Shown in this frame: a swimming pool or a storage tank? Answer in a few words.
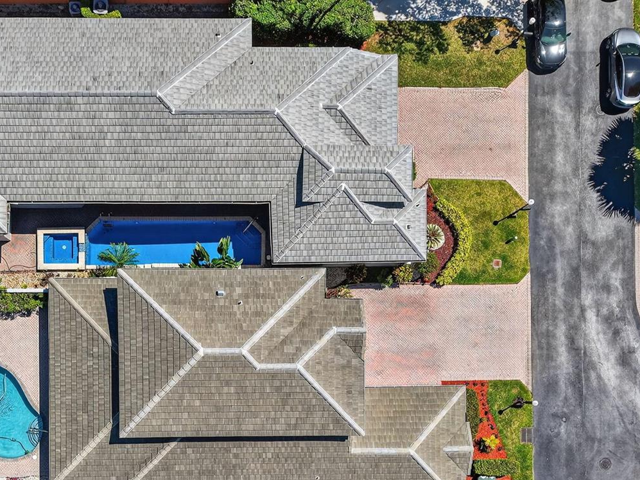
swimming pool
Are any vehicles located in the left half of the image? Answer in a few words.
No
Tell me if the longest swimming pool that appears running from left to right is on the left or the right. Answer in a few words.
left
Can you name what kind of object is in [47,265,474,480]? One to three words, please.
house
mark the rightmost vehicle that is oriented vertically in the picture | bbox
[606,30,640,109]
